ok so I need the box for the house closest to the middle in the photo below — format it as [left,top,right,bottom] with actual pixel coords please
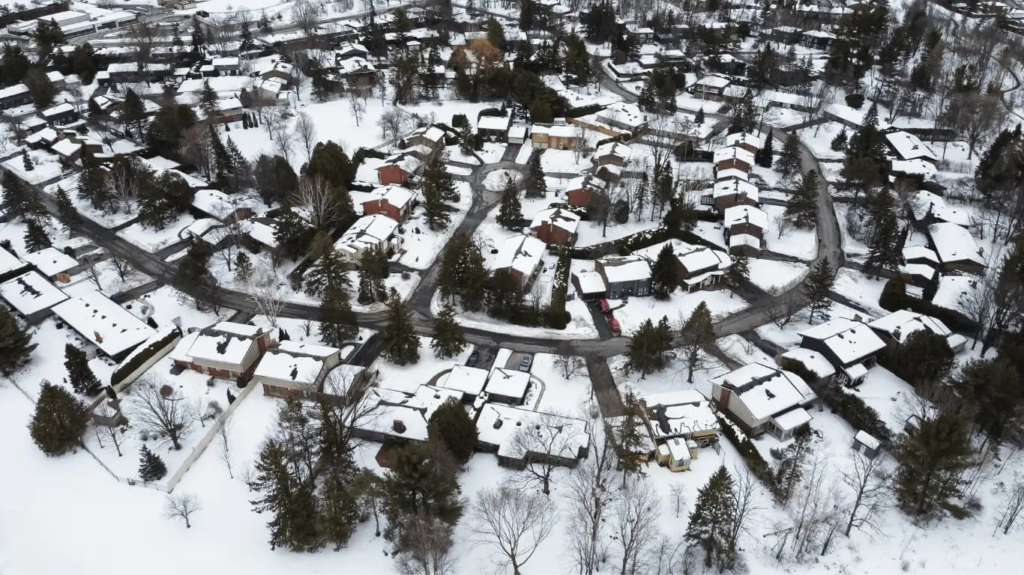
[490,238,546,292]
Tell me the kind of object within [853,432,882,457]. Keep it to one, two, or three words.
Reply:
shed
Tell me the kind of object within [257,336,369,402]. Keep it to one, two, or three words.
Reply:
house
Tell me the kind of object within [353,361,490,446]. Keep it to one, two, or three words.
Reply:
house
